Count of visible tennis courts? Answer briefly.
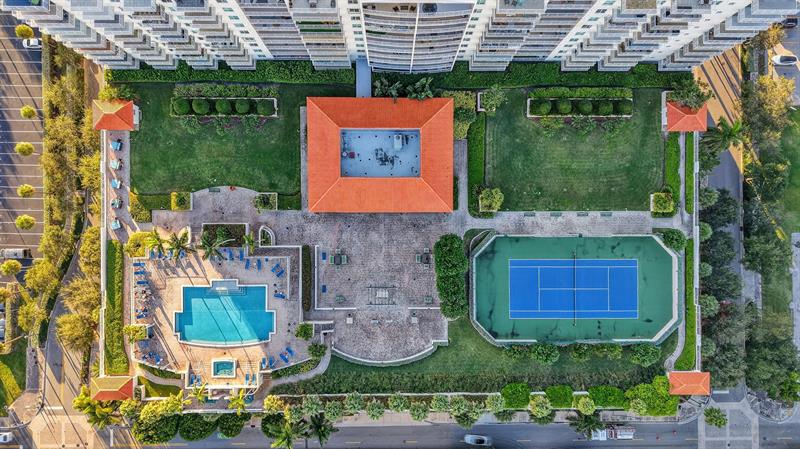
1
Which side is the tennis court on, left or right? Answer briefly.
right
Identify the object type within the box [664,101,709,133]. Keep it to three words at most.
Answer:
building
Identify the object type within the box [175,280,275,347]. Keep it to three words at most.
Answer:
swimming pool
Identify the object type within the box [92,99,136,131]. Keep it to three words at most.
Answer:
building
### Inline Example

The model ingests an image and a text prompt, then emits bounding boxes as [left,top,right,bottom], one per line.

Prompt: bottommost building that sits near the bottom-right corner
[666,371,711,395]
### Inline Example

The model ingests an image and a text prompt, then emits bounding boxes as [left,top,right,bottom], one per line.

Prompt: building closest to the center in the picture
[306,97,454,213]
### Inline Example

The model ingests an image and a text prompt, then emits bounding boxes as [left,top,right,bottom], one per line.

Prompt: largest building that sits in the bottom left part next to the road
[90,375,134,401]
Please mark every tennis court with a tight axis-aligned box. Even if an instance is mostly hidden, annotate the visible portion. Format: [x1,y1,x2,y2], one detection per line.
[475,236,673,341]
